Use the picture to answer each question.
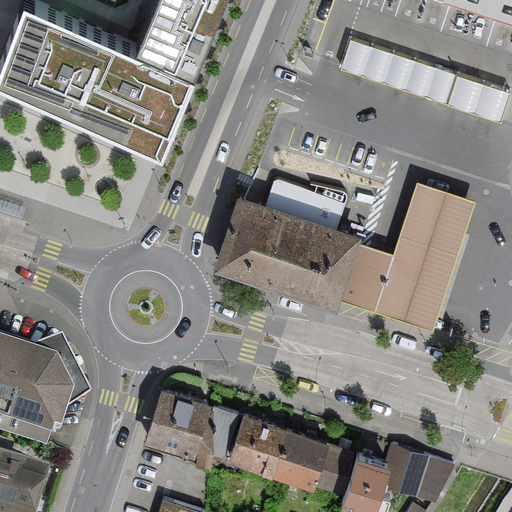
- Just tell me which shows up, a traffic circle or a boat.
traffic circle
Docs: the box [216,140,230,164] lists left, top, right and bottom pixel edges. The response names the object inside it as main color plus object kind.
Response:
white car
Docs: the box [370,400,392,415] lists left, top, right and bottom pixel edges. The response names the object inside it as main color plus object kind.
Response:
white car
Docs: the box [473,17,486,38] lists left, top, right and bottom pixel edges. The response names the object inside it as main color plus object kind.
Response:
white vehicle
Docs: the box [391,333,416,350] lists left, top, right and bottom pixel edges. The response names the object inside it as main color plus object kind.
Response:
white vehicle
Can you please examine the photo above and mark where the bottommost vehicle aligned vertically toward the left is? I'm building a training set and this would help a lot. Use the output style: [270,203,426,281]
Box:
[116,426,128,448]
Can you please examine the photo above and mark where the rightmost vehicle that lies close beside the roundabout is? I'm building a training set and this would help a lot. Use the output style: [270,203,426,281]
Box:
[213,302,236,318]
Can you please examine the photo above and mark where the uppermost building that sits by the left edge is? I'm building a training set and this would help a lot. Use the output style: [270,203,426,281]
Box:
[0,0,194,166]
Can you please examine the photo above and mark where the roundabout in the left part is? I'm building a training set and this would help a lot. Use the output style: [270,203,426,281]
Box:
[80,242,212,371]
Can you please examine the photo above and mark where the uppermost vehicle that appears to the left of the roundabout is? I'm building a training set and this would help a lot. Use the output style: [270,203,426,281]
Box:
[15,266,38,280]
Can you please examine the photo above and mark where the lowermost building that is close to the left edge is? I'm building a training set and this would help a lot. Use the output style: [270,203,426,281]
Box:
[0,443,51,512]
